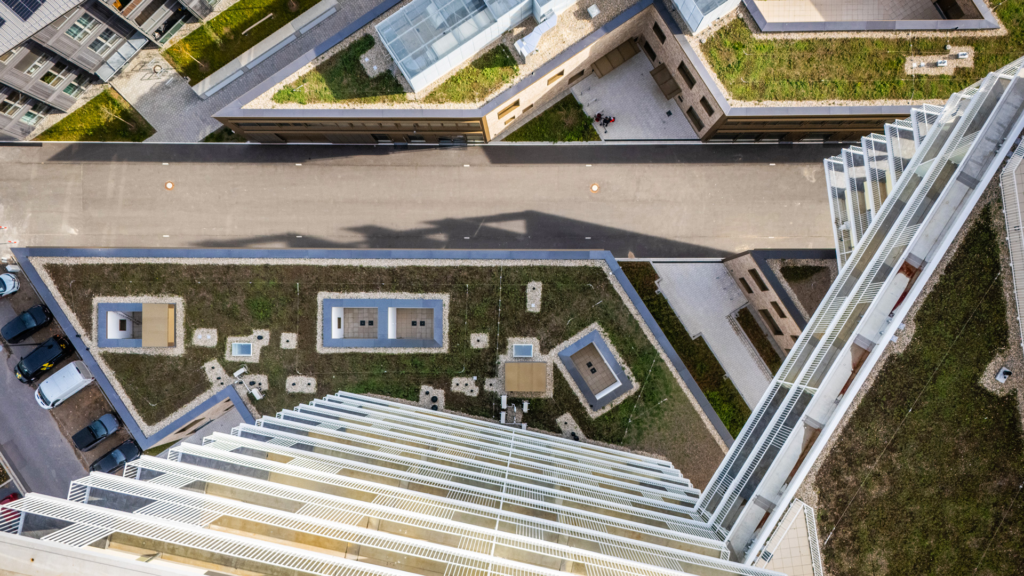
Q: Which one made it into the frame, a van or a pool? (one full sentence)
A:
I can see a van in this picture.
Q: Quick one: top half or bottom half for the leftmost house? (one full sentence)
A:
The leftmost house is in the top half of the image.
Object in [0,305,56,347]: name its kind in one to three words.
car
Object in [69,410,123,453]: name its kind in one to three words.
car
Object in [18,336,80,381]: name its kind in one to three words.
van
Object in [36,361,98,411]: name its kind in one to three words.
van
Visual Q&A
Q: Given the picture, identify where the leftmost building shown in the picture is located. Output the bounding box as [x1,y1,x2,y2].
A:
[0,0,151,140]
